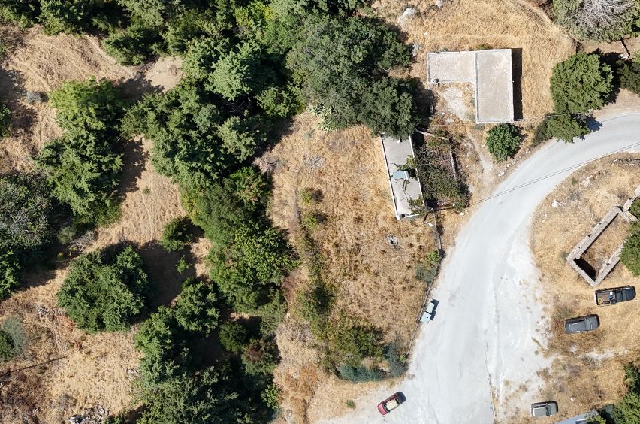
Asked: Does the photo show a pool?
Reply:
No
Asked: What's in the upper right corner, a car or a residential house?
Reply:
residential house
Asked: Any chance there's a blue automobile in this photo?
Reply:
No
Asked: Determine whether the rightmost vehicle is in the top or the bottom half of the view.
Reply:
bottom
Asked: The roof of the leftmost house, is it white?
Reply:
Yes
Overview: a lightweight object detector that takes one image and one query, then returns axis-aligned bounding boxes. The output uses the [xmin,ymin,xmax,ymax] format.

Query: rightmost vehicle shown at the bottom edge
[528,399,558,417]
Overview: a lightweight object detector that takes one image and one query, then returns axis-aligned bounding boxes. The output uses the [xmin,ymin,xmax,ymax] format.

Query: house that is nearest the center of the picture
[382,133,425,221]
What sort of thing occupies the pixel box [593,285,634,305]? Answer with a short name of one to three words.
vehicle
